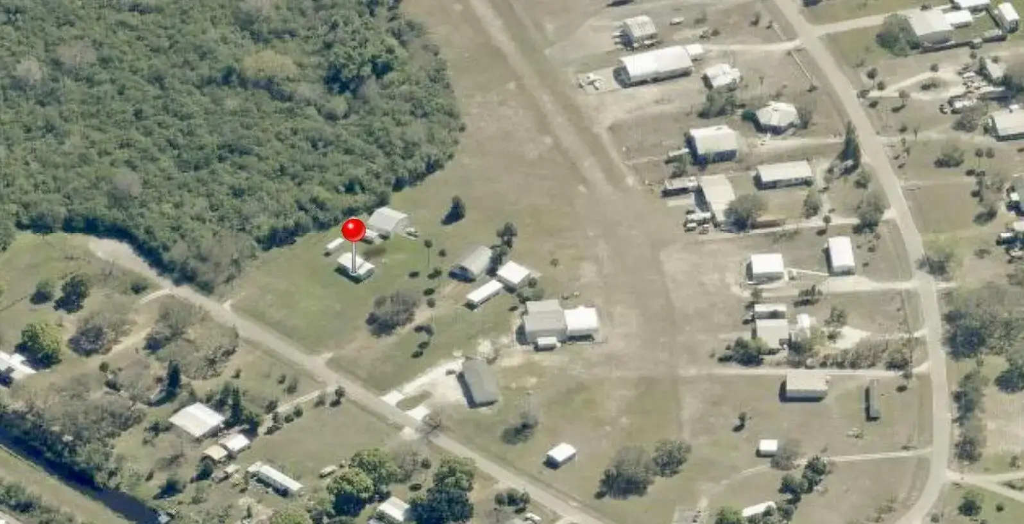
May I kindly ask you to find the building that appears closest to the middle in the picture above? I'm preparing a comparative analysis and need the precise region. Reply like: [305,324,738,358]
[497,262,532,291]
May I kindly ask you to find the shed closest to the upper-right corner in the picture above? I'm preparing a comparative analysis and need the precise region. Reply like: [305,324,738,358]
[995,4,1018,30]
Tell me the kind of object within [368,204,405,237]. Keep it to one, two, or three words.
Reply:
hangar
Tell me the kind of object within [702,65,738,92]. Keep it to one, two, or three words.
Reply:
house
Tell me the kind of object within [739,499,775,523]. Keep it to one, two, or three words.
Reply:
shed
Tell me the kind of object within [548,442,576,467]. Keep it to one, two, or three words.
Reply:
barn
